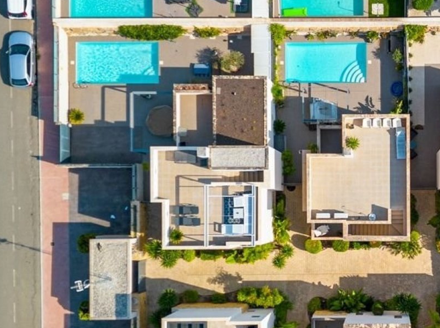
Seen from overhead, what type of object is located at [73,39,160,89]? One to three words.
swimming pool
